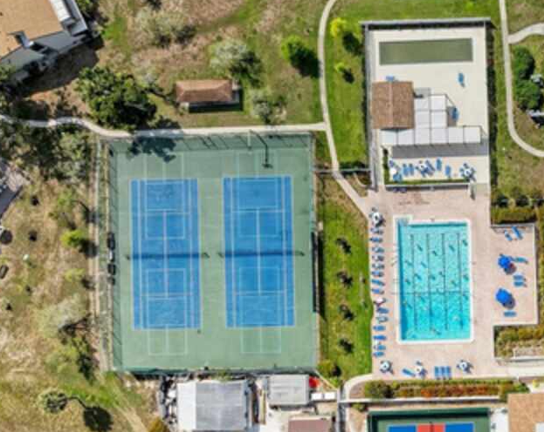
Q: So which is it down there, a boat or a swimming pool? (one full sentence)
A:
It is a swimming pool that can be seen here.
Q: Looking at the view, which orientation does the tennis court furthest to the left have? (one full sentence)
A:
The tennis court furthest to the left is oriented vertically.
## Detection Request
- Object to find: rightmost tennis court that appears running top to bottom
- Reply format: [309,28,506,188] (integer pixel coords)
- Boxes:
[217,149,296,353]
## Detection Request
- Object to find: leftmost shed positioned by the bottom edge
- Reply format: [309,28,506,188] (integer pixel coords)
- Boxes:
[177,379,255,432]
